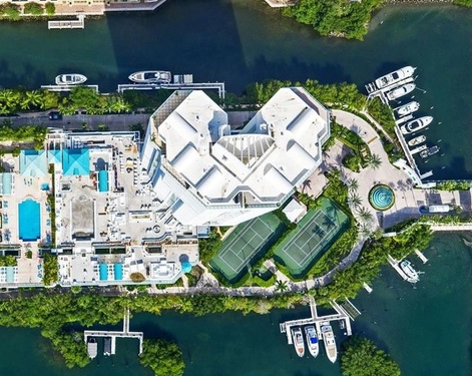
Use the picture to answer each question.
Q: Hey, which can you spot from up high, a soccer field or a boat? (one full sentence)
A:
Of the two, only a boat appears.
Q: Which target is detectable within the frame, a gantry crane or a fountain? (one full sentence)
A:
It is a fountain that can be seen here.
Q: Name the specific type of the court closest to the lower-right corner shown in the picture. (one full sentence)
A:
The court closest to the lower-right corner can be classified as a tennis court.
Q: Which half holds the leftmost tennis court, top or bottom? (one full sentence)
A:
You can find the leftmost tennis court in the bottom half.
